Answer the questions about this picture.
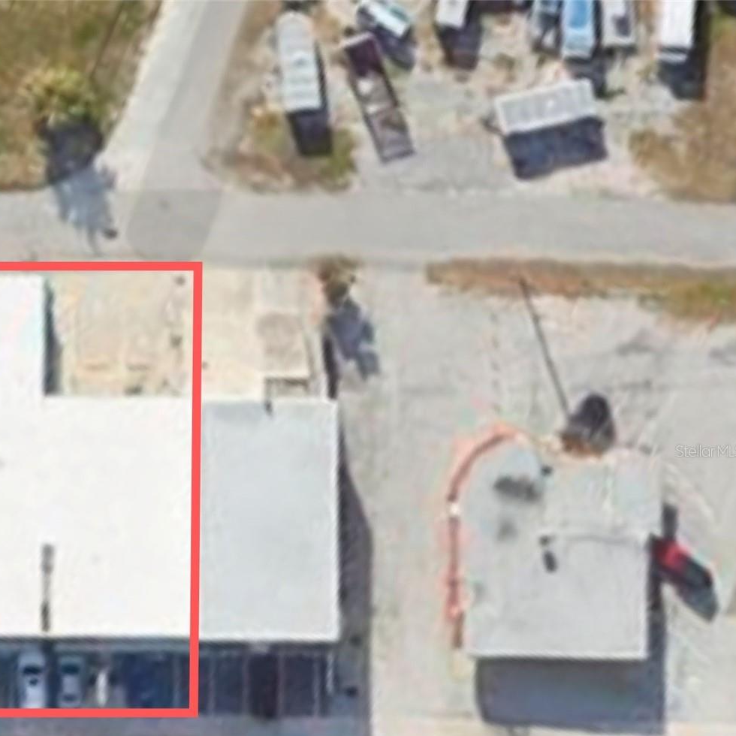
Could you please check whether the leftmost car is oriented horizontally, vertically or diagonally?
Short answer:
vertically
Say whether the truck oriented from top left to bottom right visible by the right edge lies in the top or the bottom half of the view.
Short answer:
bottom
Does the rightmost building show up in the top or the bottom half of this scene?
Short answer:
bottom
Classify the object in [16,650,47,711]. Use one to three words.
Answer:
car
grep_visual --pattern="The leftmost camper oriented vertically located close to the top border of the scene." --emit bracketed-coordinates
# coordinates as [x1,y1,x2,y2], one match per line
[277,11,320,112]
